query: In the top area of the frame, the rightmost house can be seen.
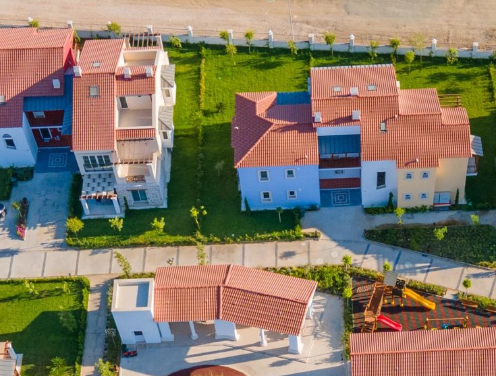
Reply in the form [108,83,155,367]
[233,65,489,210]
